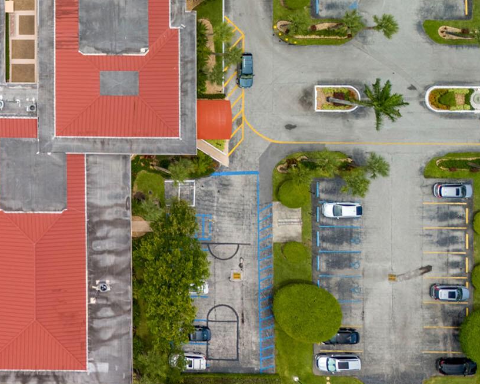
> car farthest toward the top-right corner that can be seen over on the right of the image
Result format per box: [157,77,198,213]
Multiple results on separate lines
[429,181,471,199]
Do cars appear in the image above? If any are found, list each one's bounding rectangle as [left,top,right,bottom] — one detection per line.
[235,52,253,87]
[193,323,215,340]
[176,351,208,370]
[314,351,361,373]
[189,278,211,294]
[429,181,471,199]
[319,200,362,219]
[321,326,360,343]
[427,283,468,303]
[434,355,475,376]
